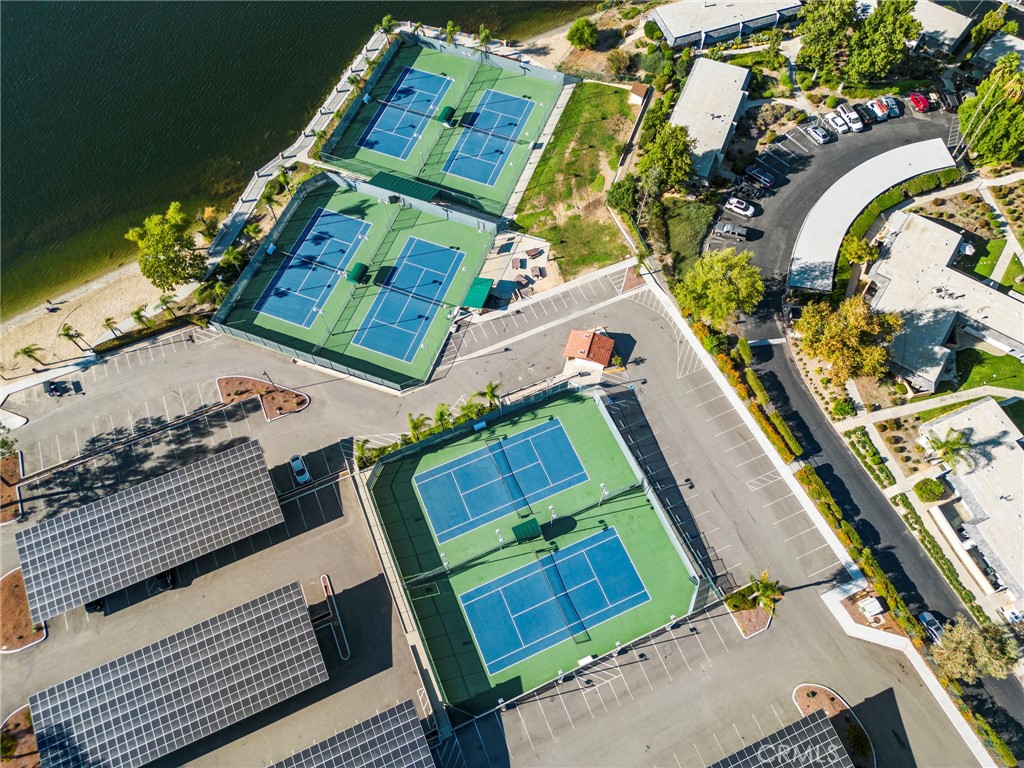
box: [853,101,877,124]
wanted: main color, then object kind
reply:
black truck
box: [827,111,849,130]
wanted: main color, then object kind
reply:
white car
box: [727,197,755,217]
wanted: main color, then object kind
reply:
white car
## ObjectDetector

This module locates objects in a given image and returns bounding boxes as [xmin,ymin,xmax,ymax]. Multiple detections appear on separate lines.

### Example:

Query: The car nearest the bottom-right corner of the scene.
[920,609,950,641]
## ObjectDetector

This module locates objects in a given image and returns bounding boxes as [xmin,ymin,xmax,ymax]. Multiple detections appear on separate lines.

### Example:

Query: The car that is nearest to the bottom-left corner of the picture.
[82,599,106,623]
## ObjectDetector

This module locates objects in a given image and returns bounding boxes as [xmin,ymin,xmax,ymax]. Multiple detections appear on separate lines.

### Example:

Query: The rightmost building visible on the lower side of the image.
[913,395,1024,619]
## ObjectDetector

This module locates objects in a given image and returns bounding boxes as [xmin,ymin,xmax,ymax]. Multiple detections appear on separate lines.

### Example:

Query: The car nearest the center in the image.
[288,455,310,486]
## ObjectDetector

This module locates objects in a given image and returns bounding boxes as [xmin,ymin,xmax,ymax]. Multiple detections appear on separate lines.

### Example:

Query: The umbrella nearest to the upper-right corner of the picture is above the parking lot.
[957,242,975,258]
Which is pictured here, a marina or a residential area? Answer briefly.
residential area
